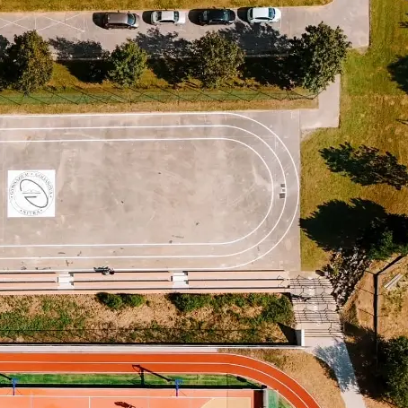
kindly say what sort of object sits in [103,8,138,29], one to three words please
car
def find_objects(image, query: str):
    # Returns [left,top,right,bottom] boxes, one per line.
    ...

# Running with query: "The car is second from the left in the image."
[149,5,184,26]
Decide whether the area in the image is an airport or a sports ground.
sports ground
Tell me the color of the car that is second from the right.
black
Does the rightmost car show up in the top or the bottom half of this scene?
top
